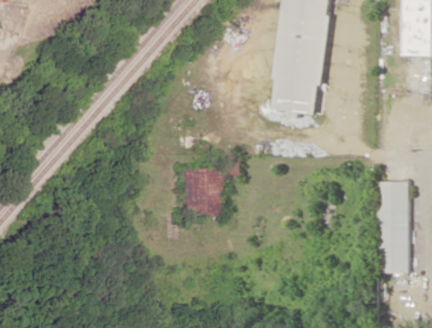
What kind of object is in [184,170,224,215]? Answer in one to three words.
house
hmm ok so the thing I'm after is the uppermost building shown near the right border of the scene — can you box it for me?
[399,0,432,57]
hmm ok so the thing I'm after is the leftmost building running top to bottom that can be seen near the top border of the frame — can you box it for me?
[272,0,330,114]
